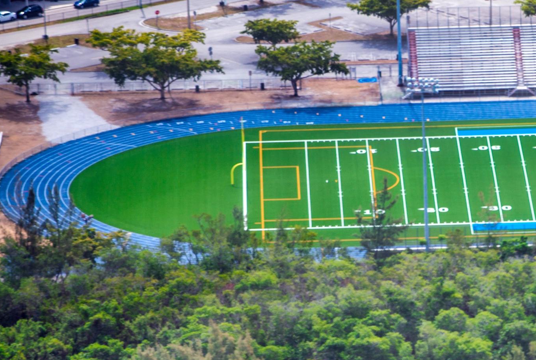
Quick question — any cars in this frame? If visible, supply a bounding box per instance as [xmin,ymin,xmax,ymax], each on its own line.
[73,0,100,7]
[17,4,43,17]
[0,12,16,21]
